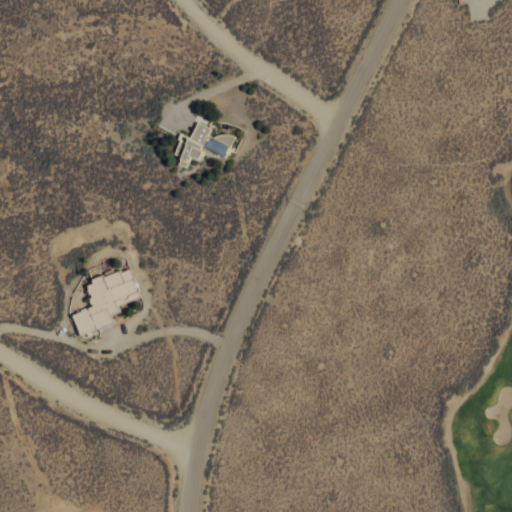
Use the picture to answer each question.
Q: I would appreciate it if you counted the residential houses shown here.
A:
2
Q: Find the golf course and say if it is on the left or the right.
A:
right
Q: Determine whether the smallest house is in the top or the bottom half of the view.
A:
top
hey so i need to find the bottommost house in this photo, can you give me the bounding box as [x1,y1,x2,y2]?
[72,269,140,340]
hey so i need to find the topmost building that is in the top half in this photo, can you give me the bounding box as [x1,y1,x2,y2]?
[175,116,237,168]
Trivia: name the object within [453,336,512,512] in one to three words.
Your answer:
golf course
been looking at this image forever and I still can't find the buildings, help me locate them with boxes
[175,116,237,168]
[72,269,140,340]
